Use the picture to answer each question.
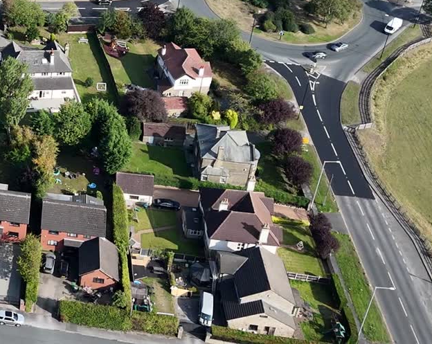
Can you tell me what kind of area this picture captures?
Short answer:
residential area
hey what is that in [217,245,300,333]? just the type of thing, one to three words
house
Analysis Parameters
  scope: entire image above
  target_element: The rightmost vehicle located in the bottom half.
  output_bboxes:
[199,292,214,323]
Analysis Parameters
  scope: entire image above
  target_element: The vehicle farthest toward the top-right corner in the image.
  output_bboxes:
[388,12,402,30]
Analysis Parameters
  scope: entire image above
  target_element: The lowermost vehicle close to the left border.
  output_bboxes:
[0,308,25,326]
